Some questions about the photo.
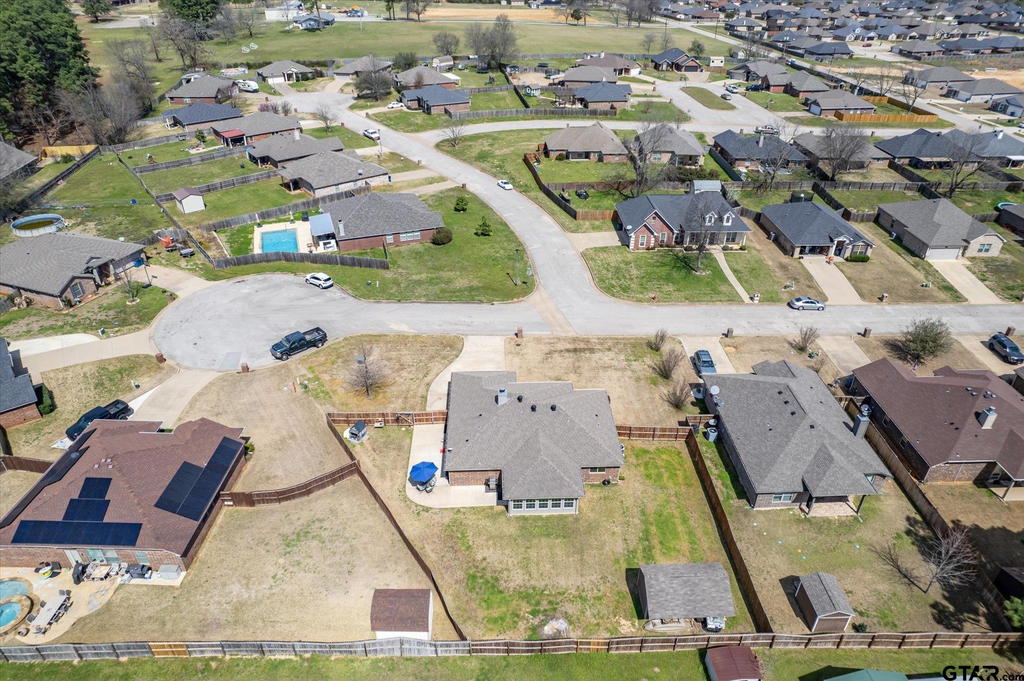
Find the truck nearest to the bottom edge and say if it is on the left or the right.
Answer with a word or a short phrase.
left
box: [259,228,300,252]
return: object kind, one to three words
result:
swimming pool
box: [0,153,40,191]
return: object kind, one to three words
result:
house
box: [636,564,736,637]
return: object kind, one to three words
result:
shed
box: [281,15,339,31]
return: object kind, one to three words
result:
house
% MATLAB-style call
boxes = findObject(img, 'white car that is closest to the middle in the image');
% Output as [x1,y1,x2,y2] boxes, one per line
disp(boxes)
[495,177,514,189]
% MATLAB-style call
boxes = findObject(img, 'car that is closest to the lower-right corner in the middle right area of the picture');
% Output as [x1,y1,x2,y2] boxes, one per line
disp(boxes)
[987,331,1024,360]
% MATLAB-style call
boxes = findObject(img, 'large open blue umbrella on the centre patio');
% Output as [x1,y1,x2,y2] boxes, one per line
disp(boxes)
[409,462,438,487]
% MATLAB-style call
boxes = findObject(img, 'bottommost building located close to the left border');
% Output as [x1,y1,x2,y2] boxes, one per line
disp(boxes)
[0,415,249,577]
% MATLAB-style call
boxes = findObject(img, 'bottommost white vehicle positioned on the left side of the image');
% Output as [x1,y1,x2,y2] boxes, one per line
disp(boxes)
[303,272,333,288]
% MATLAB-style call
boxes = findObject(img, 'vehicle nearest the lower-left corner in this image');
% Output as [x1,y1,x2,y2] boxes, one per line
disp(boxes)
[65,398,129,438]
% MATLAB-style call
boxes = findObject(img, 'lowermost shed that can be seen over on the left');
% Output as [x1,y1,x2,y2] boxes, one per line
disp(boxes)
[370,587,435,658]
